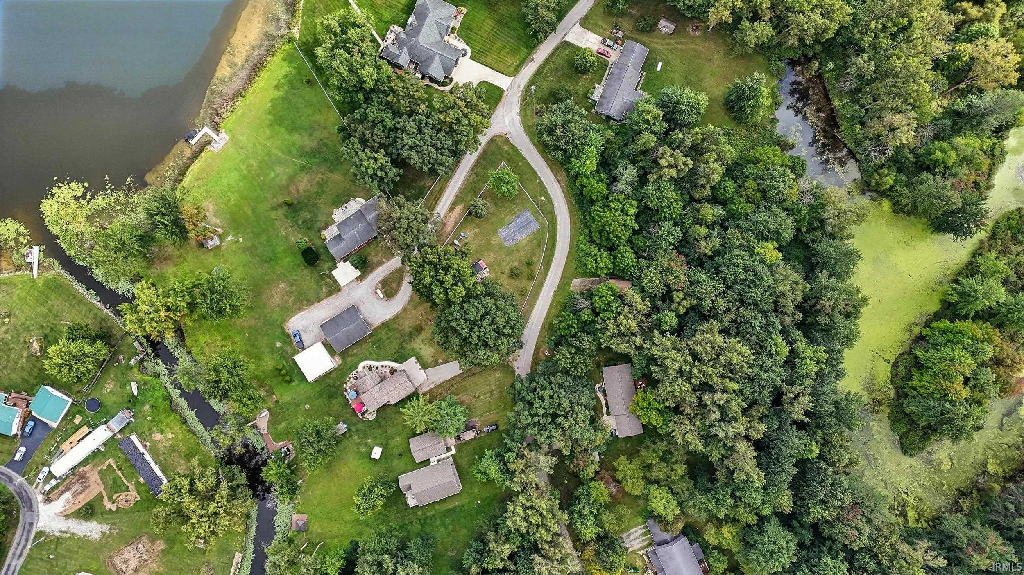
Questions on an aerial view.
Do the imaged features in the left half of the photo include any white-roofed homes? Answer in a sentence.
Yes, the scene does show a white-roofed home in the left half of the photo.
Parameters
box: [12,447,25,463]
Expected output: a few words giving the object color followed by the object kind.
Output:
white vehicle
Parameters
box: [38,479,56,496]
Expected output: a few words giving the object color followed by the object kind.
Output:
white vehicle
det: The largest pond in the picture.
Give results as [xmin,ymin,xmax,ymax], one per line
[776,57,862,191]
